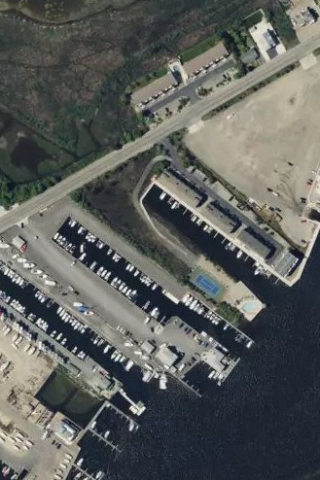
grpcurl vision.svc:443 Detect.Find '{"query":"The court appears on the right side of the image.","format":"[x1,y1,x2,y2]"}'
[189,270,225,303]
